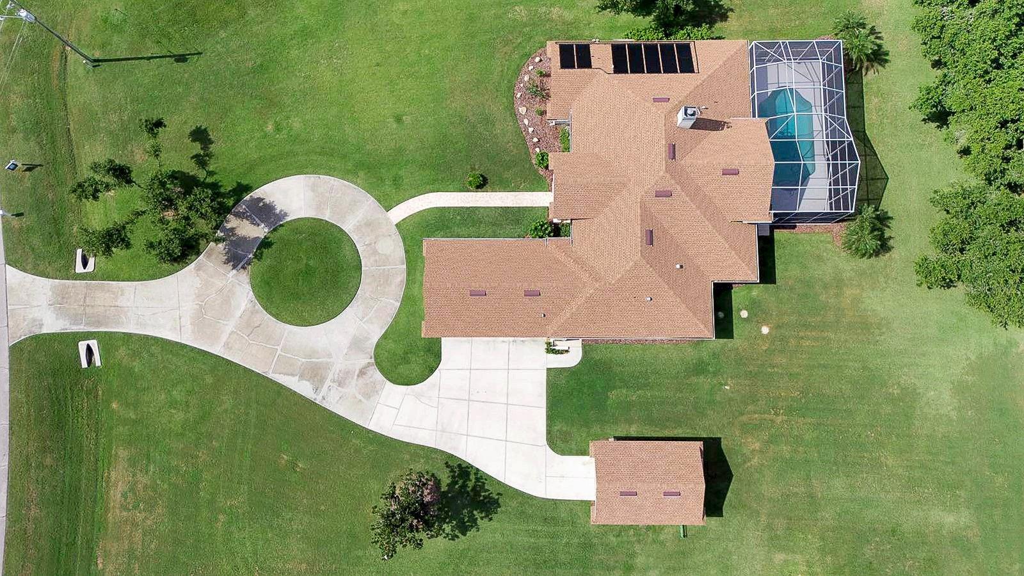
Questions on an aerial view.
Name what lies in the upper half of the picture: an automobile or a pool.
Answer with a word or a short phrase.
pool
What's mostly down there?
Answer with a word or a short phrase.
grass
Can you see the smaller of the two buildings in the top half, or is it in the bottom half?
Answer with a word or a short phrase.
bottom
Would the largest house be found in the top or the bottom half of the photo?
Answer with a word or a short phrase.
top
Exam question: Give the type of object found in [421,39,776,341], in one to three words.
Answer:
house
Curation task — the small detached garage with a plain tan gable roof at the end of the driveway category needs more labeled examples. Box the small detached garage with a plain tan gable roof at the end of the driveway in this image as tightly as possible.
[589,437,708,524]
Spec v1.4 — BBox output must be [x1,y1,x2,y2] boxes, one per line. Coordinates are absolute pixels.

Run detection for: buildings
[421,39,776,341]
[589,437,708,524]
